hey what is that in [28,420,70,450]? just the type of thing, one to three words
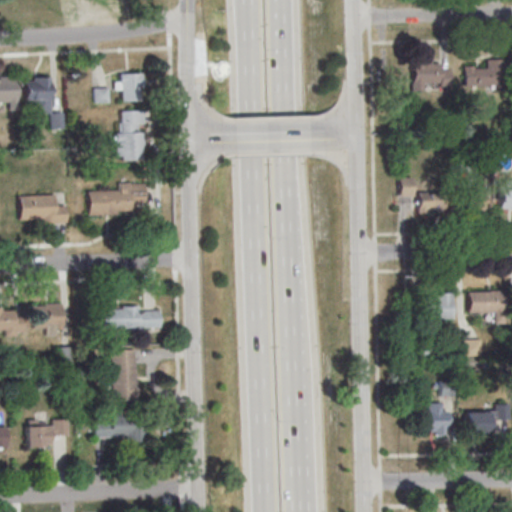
house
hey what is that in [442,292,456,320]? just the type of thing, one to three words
building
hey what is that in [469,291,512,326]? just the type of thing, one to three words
house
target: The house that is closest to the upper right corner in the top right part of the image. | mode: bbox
[466,59,504,92]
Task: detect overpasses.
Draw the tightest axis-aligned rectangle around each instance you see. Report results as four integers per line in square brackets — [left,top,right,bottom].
[196,74,351,212]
